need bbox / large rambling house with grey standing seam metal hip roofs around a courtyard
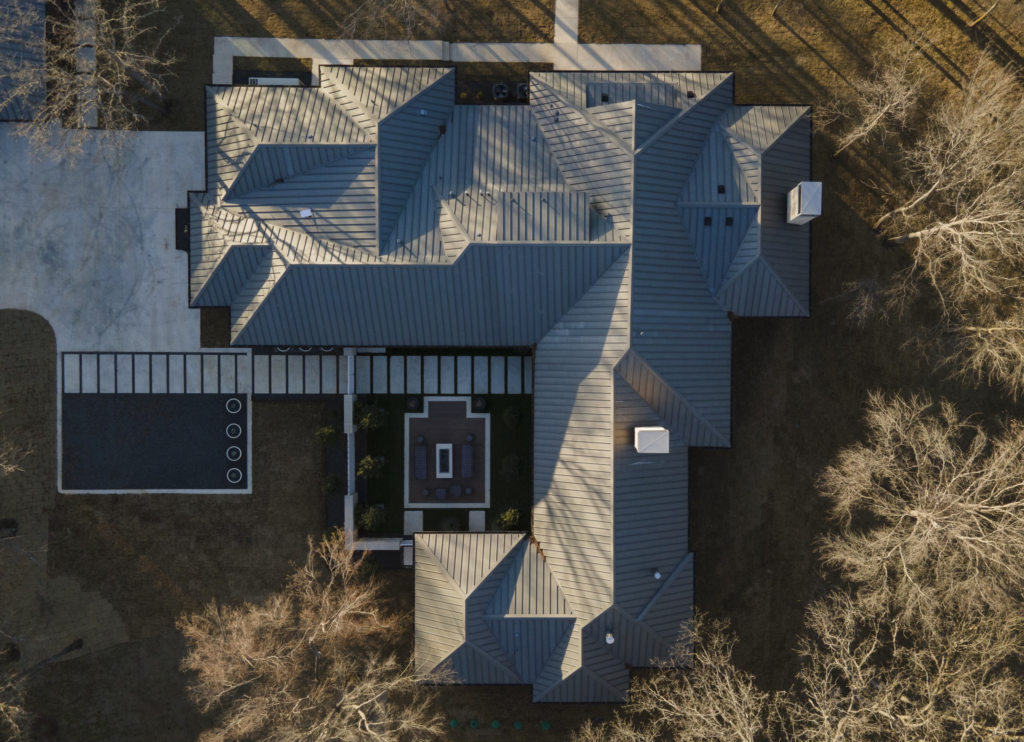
[186,63,822,705]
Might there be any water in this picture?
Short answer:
No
